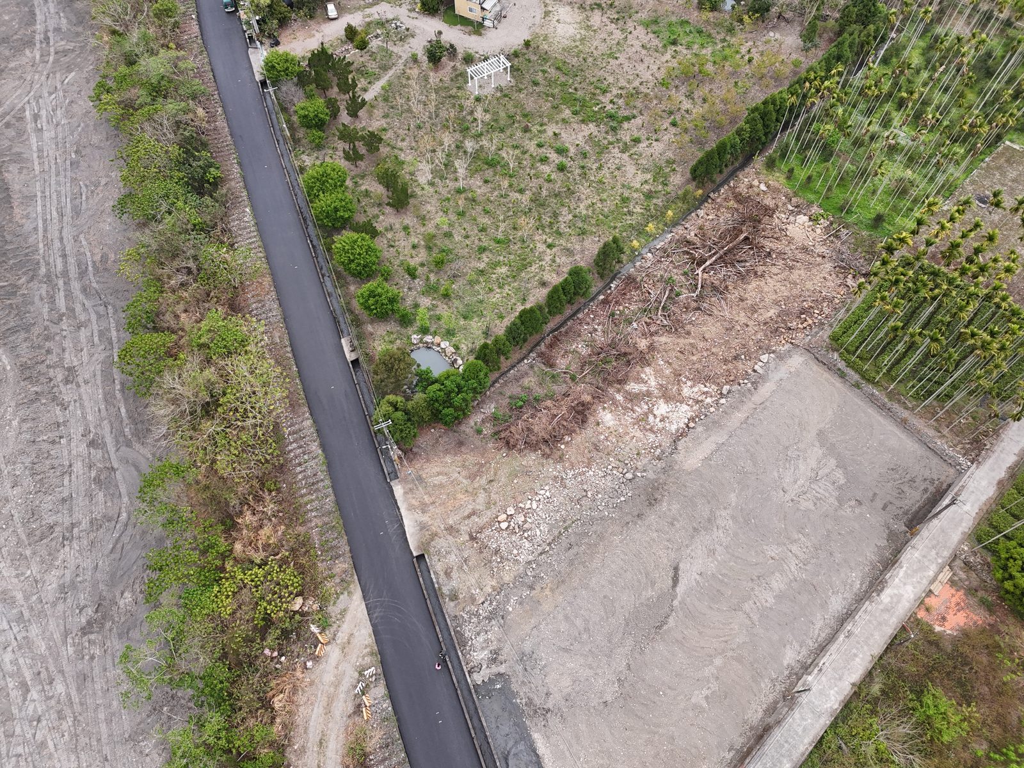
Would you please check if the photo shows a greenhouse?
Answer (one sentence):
No, the scene contains no greenhouse.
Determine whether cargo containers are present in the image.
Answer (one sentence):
No, there appears to be no cargo container in this shot.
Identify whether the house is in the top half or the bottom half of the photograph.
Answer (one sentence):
You can find the house in the top half.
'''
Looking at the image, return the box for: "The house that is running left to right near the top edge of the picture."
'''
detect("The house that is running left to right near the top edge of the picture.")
[454,0,520,30]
